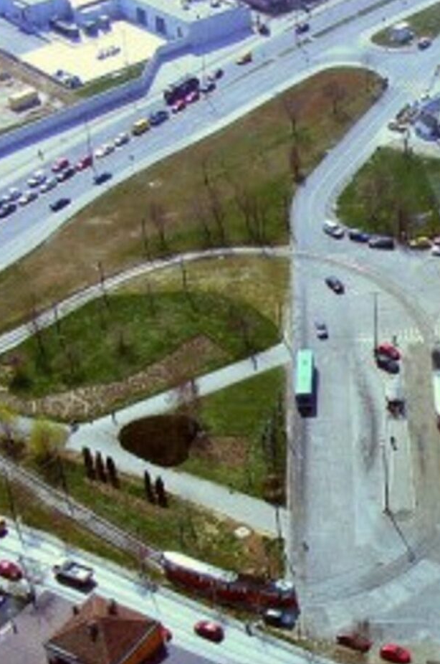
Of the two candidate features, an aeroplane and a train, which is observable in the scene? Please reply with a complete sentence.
I can see a train in this picture.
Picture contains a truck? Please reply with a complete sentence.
Yes, the picture does show a truck.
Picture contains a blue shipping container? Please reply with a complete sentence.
No, the photo shows no blue shipping container.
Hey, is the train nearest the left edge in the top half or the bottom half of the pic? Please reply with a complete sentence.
The train nearest the left edge sits in the bottom half of the picture.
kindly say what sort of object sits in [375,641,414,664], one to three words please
car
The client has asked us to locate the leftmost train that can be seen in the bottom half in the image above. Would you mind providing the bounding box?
[154,548,304,621]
